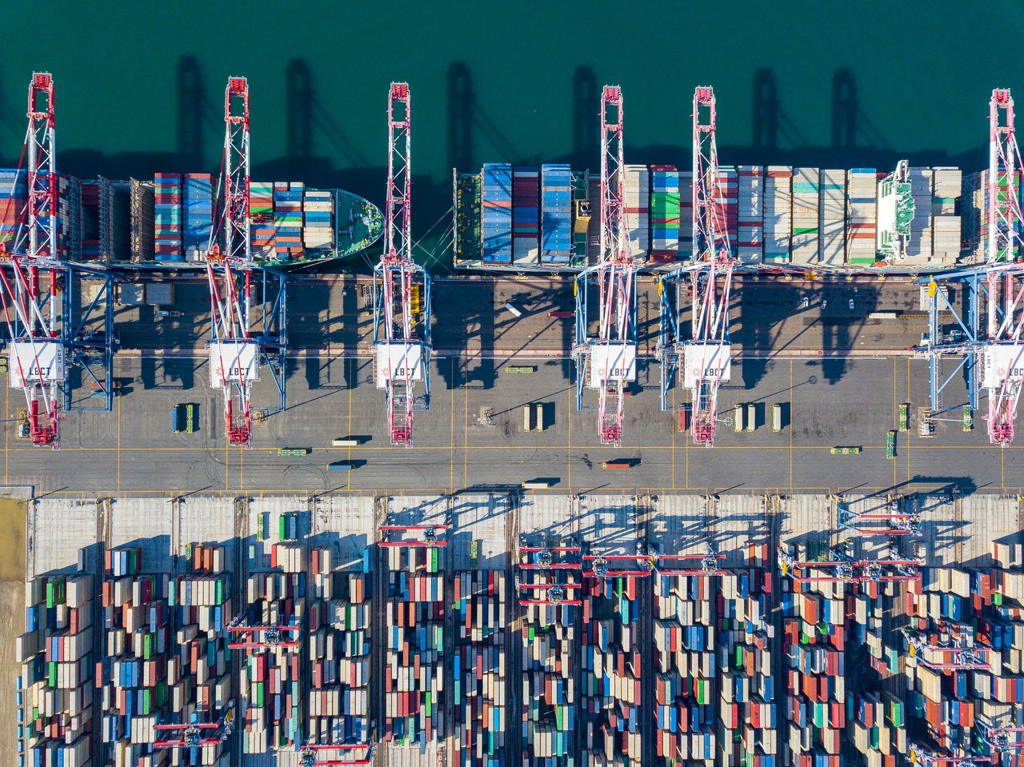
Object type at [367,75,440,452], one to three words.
container crane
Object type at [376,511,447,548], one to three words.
container crane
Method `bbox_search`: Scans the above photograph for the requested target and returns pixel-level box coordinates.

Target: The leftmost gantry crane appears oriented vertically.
[0,70,136,453]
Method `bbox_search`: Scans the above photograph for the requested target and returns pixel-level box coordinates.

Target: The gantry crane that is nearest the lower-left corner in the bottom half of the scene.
[157,699,239,748]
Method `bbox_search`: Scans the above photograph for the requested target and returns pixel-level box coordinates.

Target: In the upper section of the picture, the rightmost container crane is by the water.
[903,84,1024,450]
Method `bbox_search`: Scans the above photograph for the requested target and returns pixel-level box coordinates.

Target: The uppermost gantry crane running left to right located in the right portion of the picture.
[838,501,924,536]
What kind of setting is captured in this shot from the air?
port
